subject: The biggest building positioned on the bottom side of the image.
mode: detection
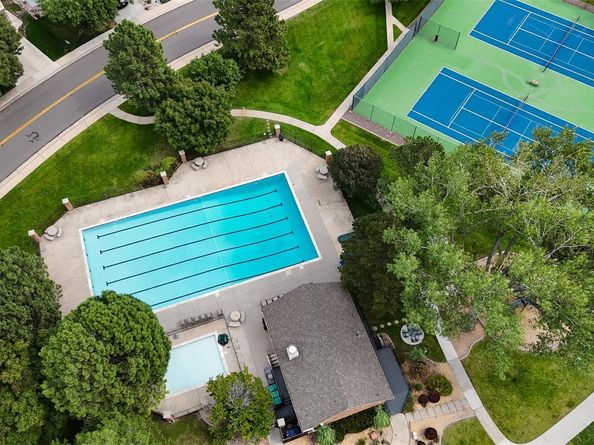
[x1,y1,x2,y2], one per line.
[262,280,392,433]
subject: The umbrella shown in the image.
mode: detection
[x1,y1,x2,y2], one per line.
[213,332,228,348]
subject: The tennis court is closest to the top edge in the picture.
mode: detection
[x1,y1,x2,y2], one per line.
[417,0,594,108]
